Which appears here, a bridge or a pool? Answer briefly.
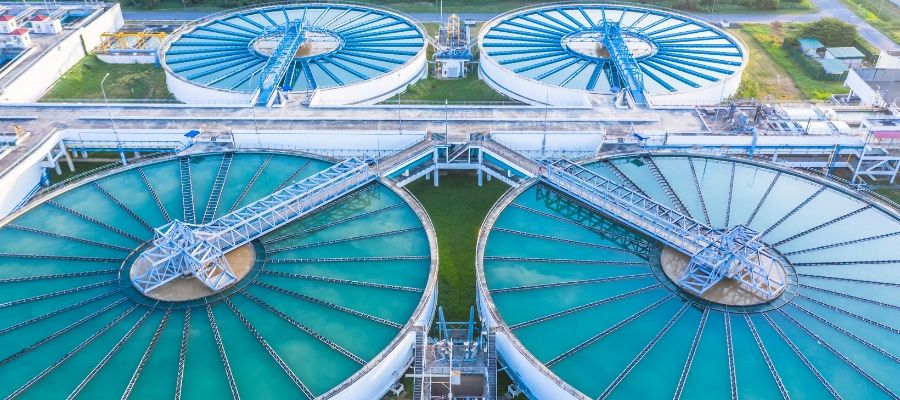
bridge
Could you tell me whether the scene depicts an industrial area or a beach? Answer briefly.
industrial area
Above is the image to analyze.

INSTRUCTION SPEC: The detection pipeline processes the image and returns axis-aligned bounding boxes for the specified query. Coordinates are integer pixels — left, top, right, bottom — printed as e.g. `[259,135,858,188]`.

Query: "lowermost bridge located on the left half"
[193,155,387,258]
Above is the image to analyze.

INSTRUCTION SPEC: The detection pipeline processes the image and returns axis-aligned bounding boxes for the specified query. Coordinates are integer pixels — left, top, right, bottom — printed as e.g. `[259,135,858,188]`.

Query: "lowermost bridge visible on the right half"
[530,156,724,260]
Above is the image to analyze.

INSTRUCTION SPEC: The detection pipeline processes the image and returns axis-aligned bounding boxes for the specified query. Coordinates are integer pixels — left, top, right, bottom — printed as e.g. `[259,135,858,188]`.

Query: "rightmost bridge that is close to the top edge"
[599,16,667,102]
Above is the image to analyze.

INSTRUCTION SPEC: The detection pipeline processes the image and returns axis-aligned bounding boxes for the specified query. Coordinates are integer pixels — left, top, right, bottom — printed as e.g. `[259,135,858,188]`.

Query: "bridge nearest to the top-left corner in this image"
[238,14,309,99]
